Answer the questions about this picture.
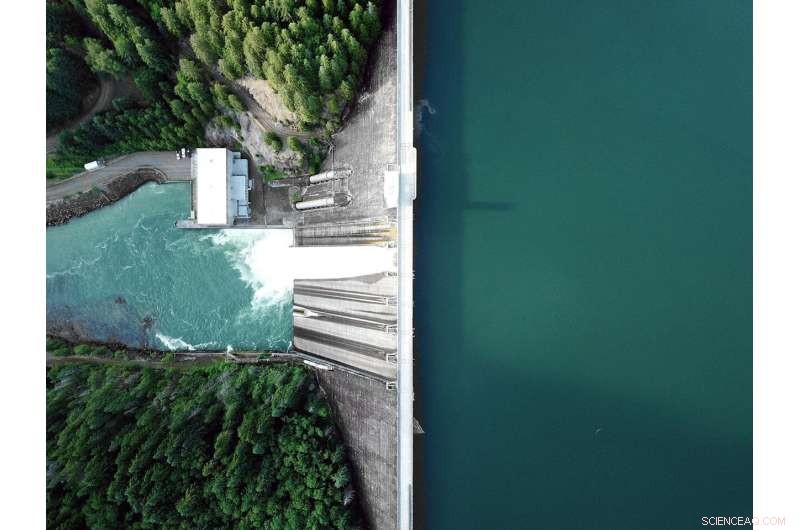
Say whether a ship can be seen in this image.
No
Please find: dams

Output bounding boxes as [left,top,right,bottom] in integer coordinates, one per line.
[288,0,423,530]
